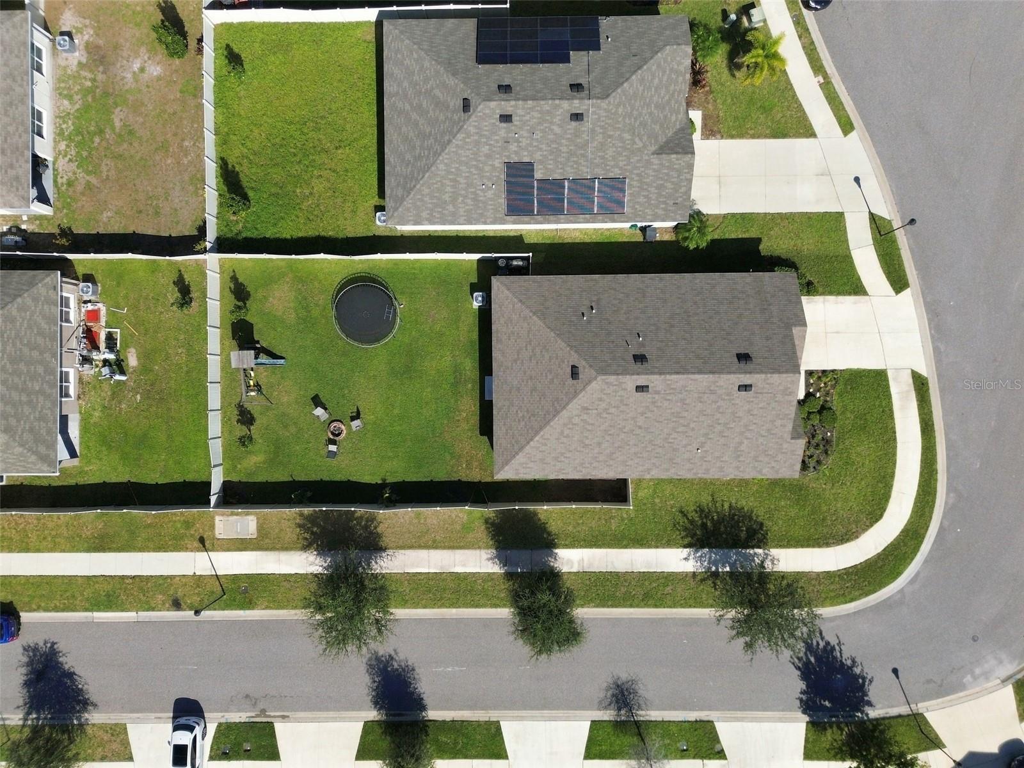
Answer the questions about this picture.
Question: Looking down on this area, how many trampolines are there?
1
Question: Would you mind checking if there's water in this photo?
No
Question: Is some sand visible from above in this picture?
No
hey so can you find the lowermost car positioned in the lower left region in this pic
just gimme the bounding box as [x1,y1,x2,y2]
[171,719,206,768]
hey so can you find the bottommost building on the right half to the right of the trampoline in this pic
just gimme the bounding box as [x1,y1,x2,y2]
[485,274,807,480]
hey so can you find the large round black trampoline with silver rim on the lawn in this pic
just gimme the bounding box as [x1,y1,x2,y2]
[334,282,399,347]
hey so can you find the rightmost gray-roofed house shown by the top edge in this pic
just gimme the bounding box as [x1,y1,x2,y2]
[383,15,698,229]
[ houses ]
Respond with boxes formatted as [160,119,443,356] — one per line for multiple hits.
[485,274,807,480]
[0,9,54,214]
[0,269,79,474]
[383,15,698,229]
